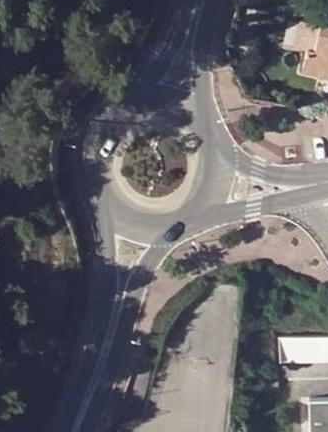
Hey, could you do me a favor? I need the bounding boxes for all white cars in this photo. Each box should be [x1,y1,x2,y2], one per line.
[99,138,116,158]
[314,138,326,159]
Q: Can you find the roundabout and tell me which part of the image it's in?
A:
center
